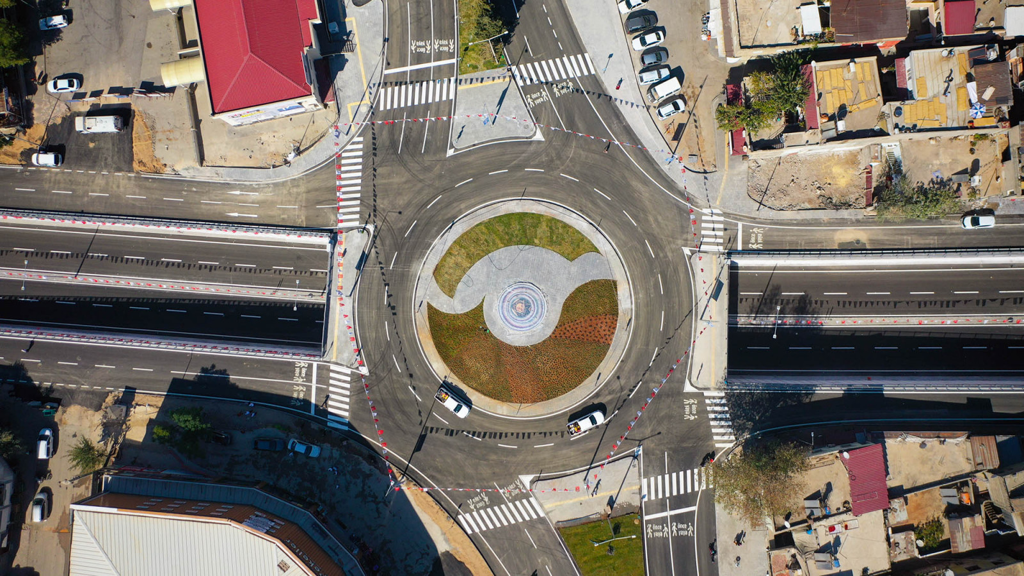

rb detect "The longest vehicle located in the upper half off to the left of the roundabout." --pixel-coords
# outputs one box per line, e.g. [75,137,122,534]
[80,117,129,136]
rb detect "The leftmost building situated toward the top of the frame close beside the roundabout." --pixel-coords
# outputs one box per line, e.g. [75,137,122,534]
[189,0,330,126]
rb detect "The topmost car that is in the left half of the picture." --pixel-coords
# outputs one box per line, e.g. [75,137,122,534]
[41,16,72,33]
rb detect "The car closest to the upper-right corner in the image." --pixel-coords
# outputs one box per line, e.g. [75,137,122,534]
[958,212,995,230]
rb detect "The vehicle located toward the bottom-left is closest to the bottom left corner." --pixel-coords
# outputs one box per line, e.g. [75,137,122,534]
[33,489,52,520]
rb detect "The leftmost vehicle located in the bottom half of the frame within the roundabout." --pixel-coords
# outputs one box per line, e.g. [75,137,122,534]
[435,387,473,416]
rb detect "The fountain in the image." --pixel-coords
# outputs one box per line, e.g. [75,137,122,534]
[498,283,547,331]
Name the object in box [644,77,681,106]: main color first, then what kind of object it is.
white van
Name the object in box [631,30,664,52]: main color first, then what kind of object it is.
white car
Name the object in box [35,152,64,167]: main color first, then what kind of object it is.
white car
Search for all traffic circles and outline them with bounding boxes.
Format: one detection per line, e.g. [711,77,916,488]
[320,53,742,541]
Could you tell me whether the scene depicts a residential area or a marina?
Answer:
residential area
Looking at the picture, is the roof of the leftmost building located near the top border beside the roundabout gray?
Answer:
No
